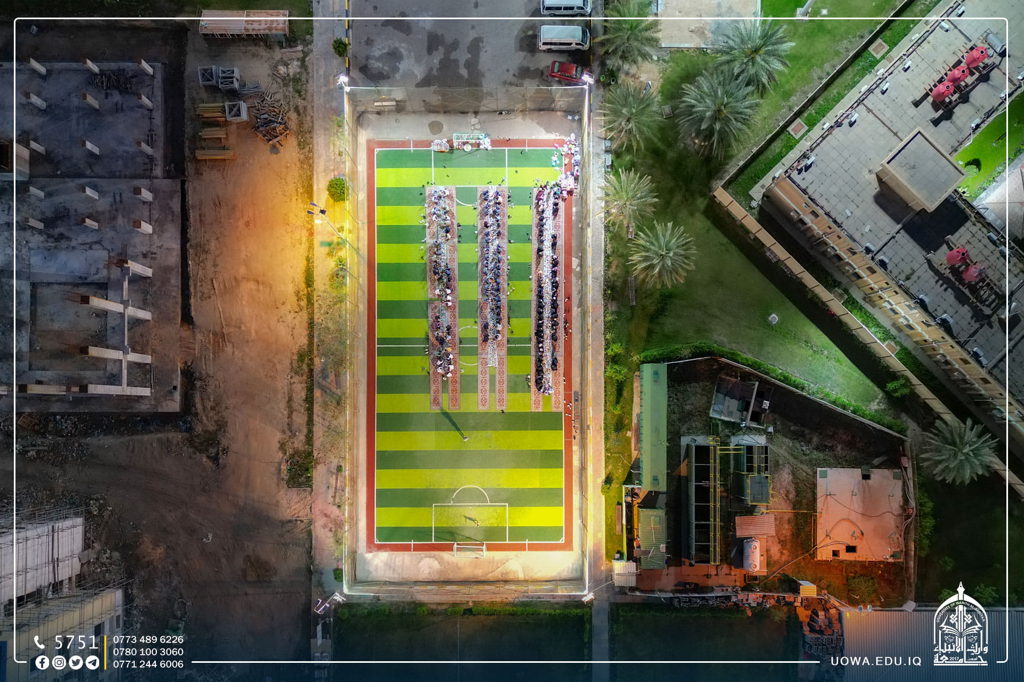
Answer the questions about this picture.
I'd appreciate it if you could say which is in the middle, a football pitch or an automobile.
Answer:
football pitch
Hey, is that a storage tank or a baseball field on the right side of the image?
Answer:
storage tank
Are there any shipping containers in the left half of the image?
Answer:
No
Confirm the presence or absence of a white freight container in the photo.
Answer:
No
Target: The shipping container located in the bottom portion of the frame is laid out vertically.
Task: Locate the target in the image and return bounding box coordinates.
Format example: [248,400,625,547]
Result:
[636,505,665,569]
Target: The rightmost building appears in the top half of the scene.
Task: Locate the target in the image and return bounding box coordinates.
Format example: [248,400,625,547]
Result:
[970,161,1024,255]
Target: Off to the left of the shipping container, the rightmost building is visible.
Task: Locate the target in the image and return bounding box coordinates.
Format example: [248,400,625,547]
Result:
[609,556,636,586]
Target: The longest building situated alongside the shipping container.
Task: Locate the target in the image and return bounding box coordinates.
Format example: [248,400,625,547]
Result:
[640,364,667,491]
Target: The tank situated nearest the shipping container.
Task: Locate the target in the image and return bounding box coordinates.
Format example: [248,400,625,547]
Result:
[687,434,721,567]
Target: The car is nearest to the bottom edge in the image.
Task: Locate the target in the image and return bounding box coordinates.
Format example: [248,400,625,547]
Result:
[548,59,592,85]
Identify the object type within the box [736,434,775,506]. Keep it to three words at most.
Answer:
storage tank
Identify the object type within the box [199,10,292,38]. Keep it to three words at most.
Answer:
shed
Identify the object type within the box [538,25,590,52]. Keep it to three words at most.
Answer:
vehicle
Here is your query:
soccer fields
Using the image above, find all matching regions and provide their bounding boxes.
[366,139,573,552]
